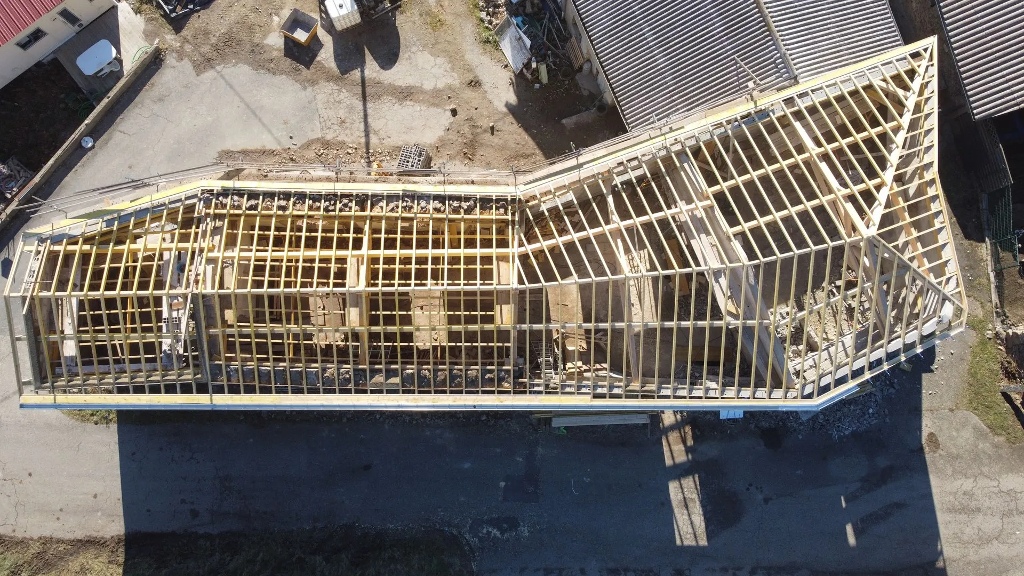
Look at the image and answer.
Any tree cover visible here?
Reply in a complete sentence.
No, tree cover can't be seen anywhere here.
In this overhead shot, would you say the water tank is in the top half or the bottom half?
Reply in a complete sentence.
The water tank sits in the top half of the picture.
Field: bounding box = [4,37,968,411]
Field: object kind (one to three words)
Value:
house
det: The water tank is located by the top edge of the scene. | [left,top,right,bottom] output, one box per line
[326,0,364,32]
